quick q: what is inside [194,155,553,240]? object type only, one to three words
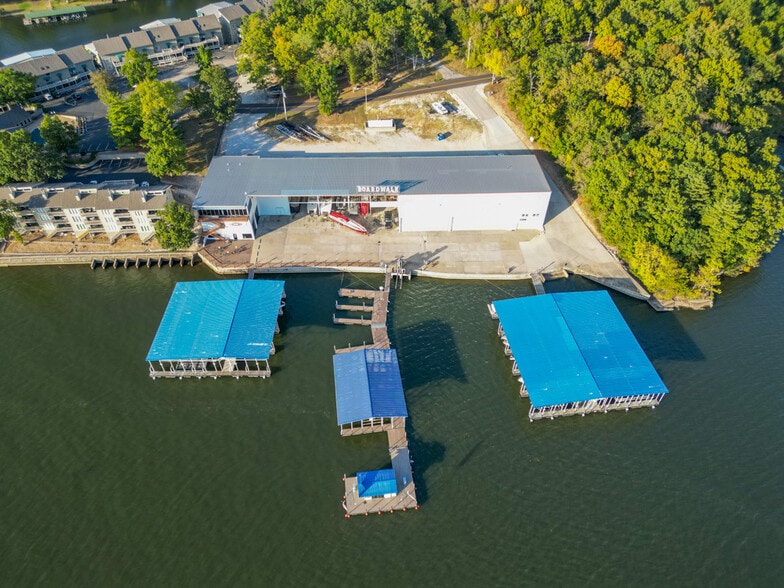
building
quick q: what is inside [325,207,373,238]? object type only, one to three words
boat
